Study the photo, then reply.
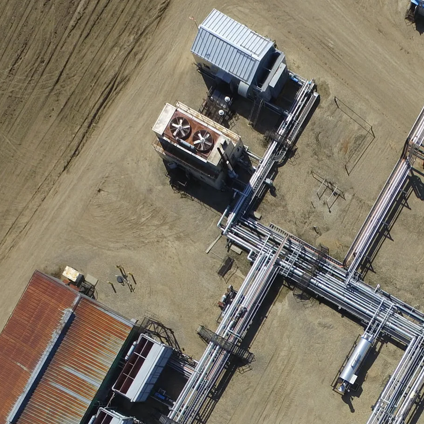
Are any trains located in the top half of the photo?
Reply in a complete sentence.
No, in the top half of the photo there is no train.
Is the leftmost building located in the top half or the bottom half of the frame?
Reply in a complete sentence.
Seen from above, the leftmost building lies in the bottom half of the view.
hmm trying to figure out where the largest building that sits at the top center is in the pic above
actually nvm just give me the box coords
[190,9,296,111]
